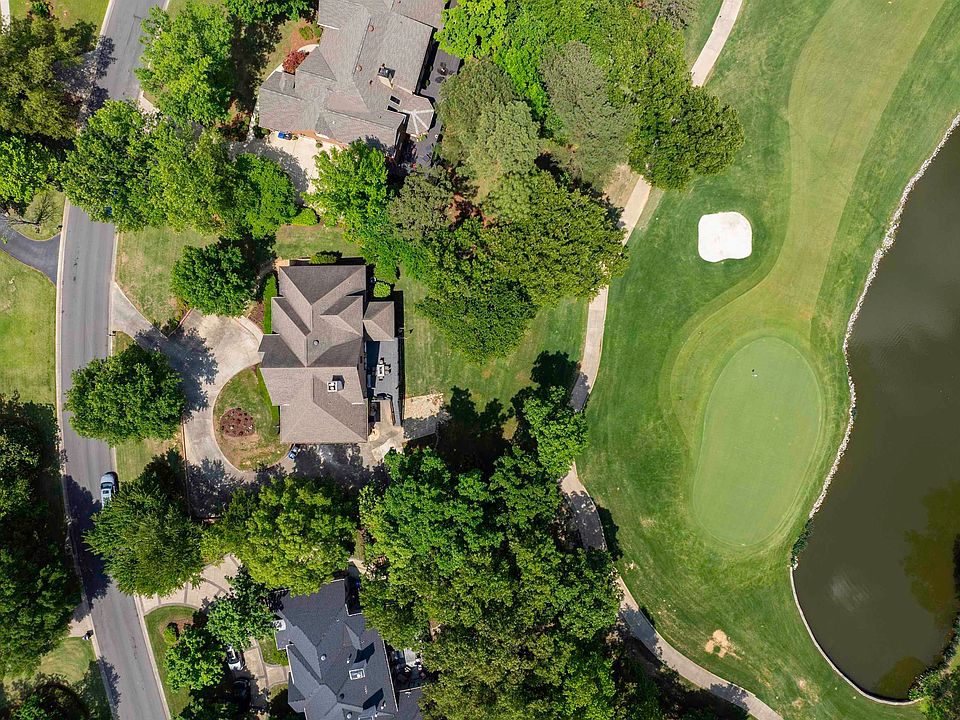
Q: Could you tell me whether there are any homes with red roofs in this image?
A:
No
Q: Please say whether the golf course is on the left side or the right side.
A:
right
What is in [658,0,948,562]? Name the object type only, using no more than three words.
golf course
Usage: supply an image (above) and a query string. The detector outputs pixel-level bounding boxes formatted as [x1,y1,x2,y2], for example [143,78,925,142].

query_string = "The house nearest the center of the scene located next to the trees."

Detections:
[259,264,400,442]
